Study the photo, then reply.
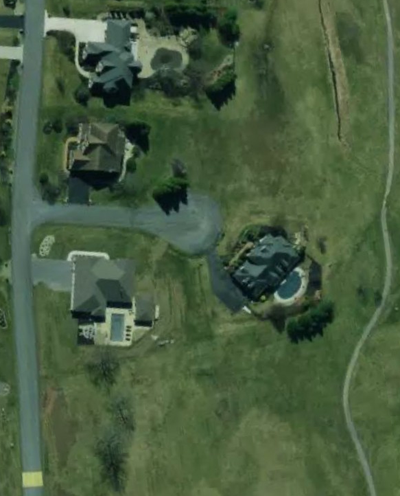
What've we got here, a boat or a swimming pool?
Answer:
swimming pool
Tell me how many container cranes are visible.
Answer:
0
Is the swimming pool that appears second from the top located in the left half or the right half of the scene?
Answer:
right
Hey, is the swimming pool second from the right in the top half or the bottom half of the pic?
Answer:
top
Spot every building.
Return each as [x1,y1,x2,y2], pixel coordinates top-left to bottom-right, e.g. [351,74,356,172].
[85,18,145,96]
[227,223,300,302]
[71,253,135,311]
[69,121,125,173]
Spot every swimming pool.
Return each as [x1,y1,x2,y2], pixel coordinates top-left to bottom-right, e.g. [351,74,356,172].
[150,46,183,70]
[276,269,302,301]
[109,315,125,341]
